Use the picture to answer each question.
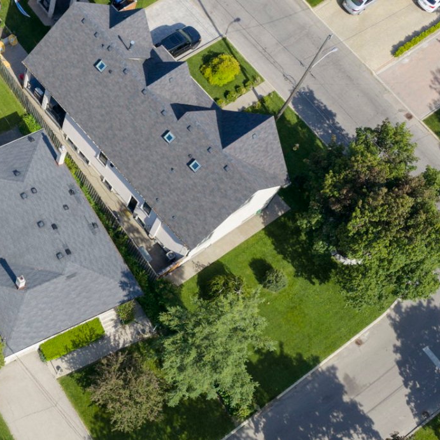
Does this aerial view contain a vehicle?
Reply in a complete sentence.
Yes, there's a vehicle here.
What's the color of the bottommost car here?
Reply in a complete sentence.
From above, the bottommost car appears black.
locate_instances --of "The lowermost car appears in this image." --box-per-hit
[157,23,205,55]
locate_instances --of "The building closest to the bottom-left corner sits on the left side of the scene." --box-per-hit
[0,129,144,364]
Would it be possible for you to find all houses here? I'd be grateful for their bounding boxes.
[0,129,144,364]
[21,1,295,262]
